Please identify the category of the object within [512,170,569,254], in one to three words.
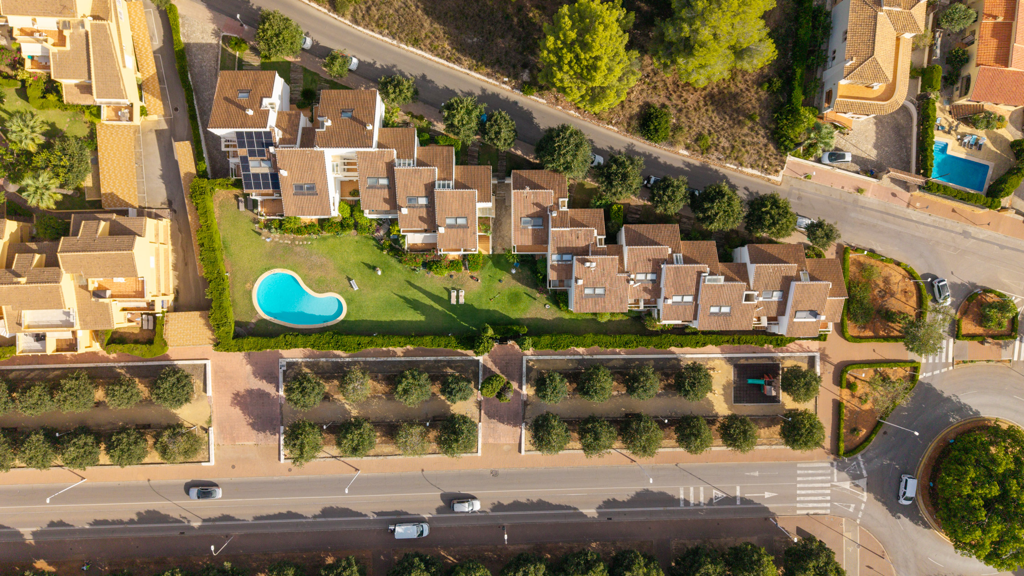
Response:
house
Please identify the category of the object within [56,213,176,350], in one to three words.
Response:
building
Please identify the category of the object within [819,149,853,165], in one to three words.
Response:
car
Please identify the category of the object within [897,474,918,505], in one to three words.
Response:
vehicle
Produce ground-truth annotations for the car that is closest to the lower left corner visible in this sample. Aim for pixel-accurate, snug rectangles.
[189,484,223,501]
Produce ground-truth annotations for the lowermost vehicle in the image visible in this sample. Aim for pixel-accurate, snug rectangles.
[387,521,429,540]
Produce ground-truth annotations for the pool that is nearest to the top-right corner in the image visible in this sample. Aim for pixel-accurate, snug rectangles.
[930,136,994,193]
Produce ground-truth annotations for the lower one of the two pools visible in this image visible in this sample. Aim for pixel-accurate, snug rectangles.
[252,268,347,329]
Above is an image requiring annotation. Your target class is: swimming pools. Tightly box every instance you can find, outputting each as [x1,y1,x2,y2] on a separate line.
[930,136,994,193]
[252,268,347,329]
